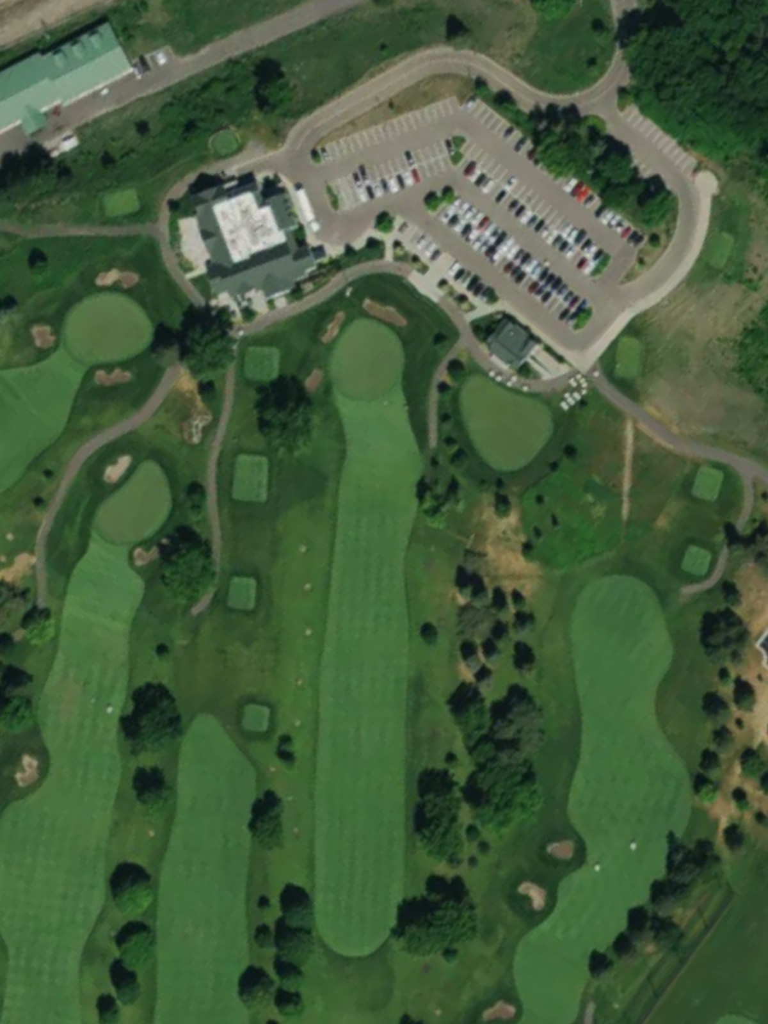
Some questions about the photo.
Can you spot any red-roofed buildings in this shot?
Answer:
No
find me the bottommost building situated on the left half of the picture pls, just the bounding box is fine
[194,182,326,299]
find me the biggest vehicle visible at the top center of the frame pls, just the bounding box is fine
[294,190,320,228]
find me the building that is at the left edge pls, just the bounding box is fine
[0,23,133,135]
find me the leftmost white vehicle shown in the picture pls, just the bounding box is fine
[51,135,78,154]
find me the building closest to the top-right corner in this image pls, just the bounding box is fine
[487,316,539,369]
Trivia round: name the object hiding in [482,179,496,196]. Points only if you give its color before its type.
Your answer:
white vehicle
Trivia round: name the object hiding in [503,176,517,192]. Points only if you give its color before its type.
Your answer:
white vehicle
